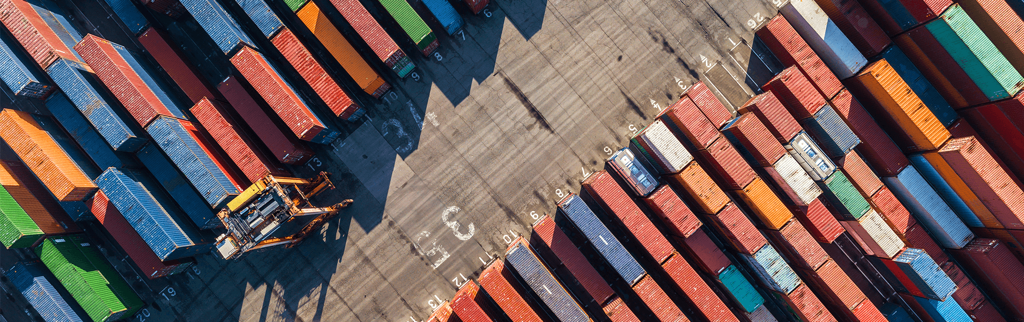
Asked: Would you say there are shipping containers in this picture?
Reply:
Yes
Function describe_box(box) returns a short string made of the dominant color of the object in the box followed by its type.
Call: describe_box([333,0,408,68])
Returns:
red shipping container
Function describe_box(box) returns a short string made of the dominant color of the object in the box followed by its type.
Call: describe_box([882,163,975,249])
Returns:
blue shipping container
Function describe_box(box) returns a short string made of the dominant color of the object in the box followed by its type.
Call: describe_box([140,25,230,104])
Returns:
red shipping container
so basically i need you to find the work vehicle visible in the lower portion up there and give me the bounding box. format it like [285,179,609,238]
[213,167,351,259]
